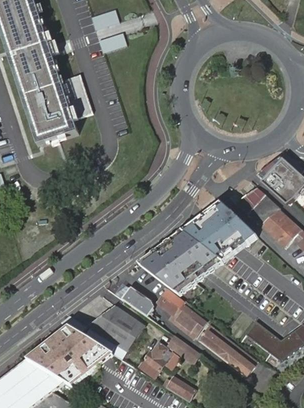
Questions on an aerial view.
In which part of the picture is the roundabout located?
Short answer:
top right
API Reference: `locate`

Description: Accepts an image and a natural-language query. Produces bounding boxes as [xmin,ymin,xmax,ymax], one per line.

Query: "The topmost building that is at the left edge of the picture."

[0,0,80,148]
